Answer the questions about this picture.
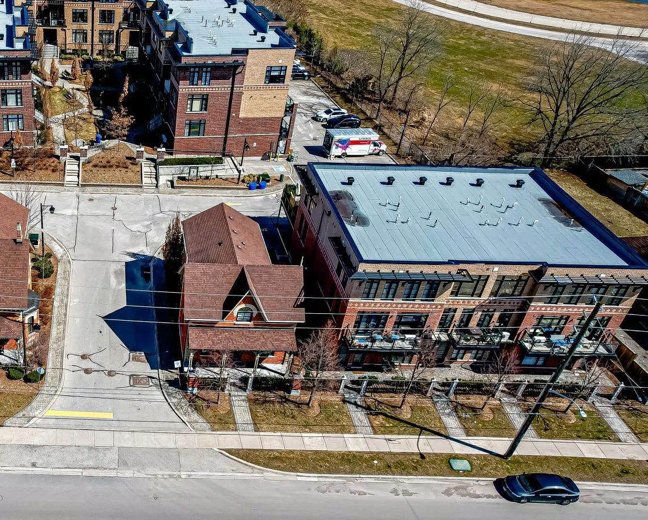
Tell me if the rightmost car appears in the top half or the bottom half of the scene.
bottom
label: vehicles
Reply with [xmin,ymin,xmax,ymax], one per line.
[498,474,579,510]
[315,106,350,122]
[326,128,393,159]
[294,67,317,82]
[327,115,364,129]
